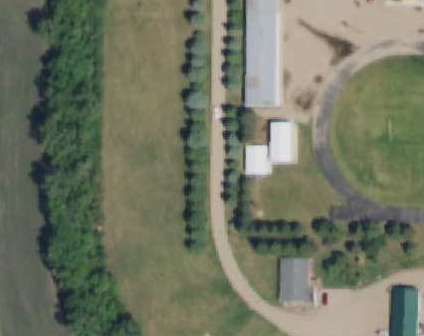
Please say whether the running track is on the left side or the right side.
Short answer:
right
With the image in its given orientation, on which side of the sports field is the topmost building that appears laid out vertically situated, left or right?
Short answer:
to its left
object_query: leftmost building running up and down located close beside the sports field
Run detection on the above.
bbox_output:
[246,0,280,105]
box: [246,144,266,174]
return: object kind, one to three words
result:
shed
